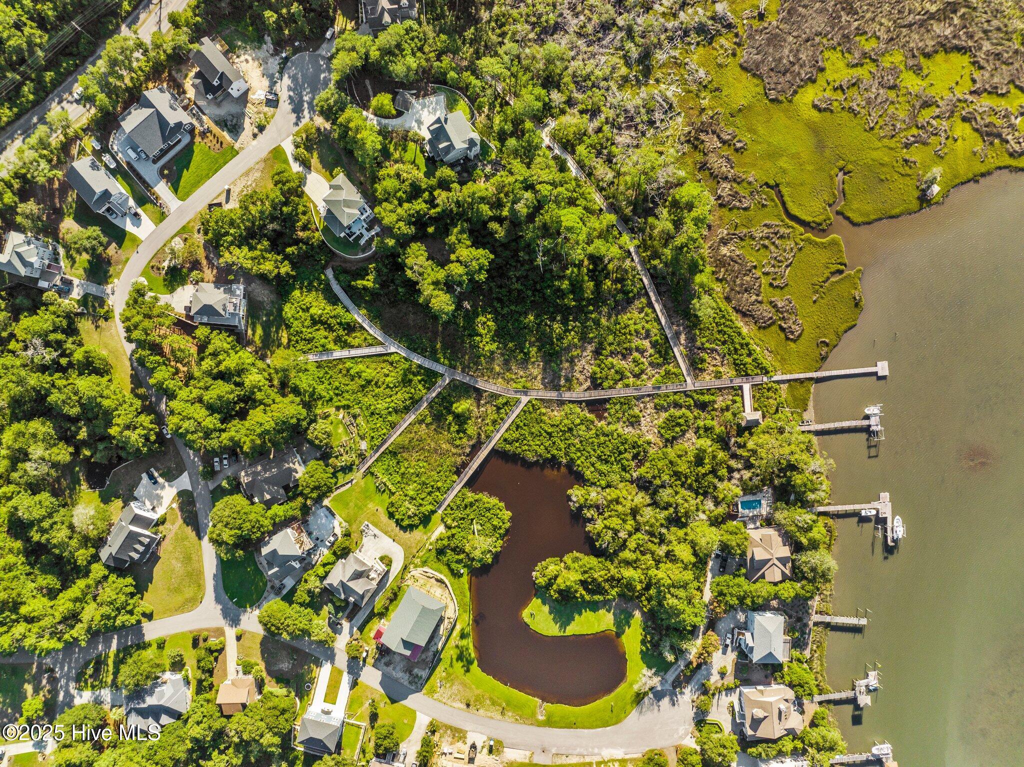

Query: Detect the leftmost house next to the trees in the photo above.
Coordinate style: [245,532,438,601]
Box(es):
[0,233,70,284]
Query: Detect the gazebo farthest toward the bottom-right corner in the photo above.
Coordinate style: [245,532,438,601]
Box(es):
[851,688,870,706]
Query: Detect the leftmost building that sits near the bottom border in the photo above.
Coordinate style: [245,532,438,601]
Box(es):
[125,668,205,740]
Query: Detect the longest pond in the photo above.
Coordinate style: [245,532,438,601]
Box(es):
[456,442,627,706]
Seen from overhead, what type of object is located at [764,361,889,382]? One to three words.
pier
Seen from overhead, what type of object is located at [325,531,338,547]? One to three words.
vehicle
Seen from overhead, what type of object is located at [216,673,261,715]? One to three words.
house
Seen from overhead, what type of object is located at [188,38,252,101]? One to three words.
house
